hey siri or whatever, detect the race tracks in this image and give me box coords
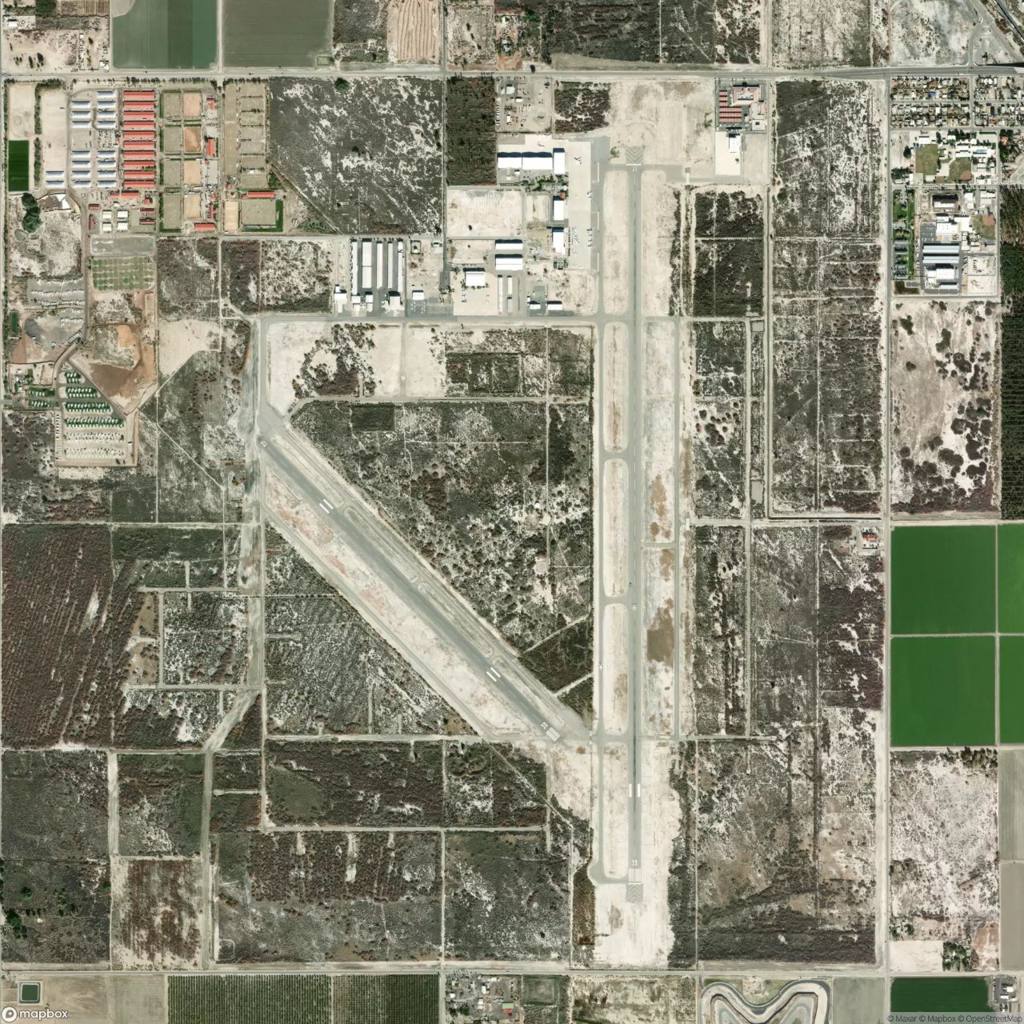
[700,979,830,1024]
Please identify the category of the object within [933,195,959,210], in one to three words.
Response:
building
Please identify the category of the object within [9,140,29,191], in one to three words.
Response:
sports field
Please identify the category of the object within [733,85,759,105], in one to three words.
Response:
building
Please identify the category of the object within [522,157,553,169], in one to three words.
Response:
hangar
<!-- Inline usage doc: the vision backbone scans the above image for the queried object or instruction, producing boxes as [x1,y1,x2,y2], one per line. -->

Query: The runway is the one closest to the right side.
[626,164,641,884]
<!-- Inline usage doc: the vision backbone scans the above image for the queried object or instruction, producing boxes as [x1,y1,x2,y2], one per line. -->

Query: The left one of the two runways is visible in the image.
[255,435,563,748]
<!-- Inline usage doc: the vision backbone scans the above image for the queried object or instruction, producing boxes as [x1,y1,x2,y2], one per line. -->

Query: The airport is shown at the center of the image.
[255,132,766,902]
